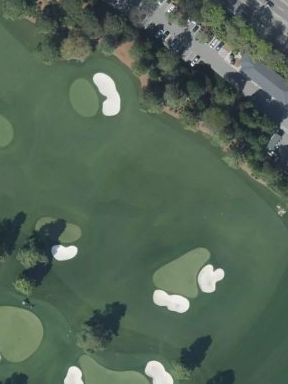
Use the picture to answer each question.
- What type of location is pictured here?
golf course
